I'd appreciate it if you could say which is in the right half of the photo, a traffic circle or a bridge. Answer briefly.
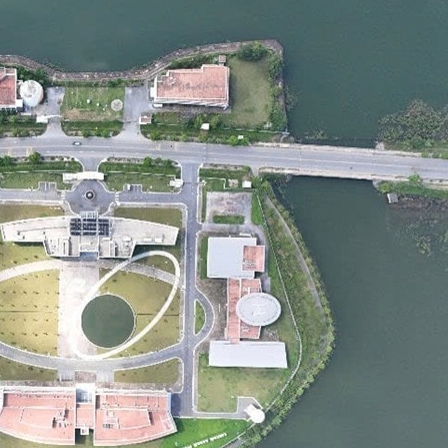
bridge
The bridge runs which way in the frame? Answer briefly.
from side to side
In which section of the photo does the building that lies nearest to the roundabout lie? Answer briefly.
left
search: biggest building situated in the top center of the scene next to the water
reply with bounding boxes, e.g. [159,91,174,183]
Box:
[149,65,228,113]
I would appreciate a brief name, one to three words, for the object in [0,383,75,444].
building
